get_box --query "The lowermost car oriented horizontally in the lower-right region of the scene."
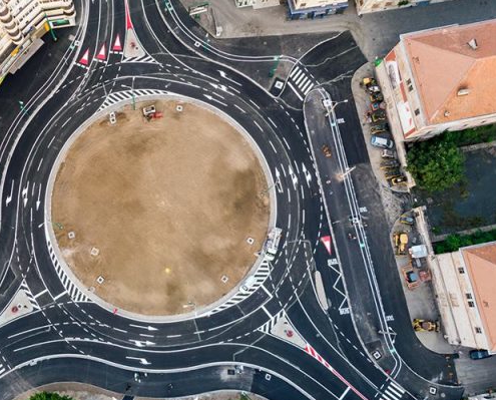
[465,349,491,361]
